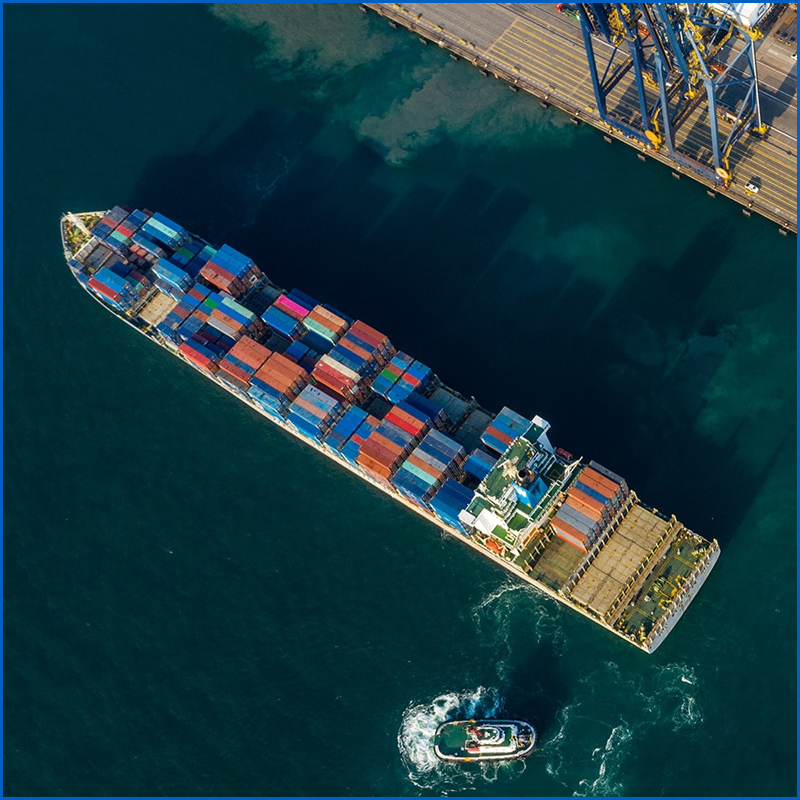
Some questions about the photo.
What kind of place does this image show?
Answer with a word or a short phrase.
port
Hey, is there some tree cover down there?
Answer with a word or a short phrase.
No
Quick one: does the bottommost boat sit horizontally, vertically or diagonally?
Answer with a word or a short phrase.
horizontally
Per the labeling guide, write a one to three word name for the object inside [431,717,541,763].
boat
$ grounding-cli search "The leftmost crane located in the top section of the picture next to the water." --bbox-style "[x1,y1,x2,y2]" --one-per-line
[574,0,695,147]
